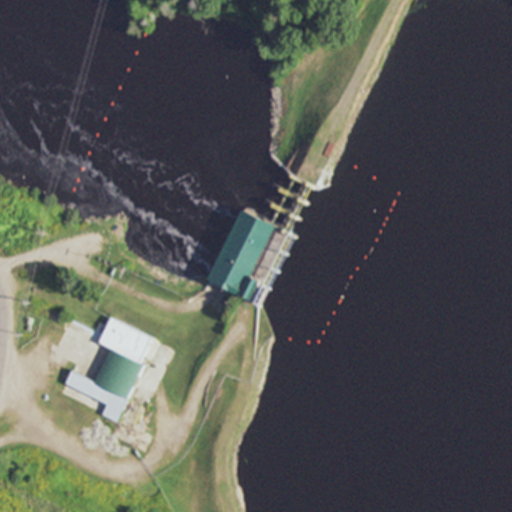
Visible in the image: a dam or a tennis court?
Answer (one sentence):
The one in the frame is a dam.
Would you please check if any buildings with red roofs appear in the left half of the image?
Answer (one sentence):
No, looking in the left half of the image, there is no building with a red roof.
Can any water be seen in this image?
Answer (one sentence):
Yes, the picture does contain water.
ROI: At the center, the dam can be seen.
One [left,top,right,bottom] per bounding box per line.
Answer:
[250,178,312,308]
